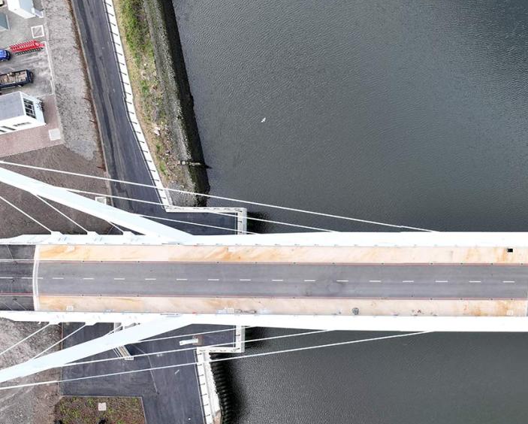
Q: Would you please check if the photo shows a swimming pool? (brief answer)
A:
No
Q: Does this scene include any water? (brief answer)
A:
Yes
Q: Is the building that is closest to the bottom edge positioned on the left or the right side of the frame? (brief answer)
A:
left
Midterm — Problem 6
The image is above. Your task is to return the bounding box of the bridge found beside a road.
[0,159,528,389]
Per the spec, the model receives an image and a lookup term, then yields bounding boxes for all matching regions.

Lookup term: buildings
[5,0,34,18]
[0,93,45,133]
[0,11,12,32]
